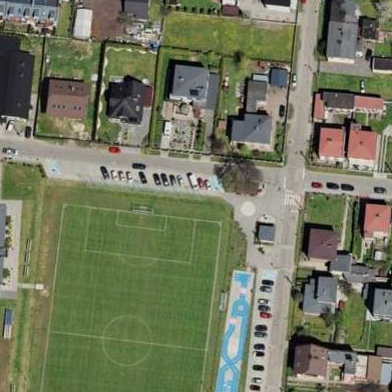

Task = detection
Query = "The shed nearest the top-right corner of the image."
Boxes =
[359,19,377,40]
